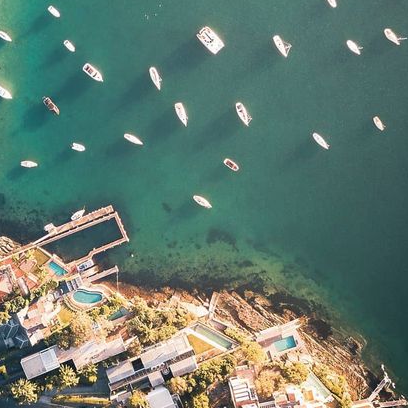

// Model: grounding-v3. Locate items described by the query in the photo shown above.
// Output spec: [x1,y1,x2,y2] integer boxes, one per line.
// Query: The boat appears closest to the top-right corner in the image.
[384,28,403,45]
